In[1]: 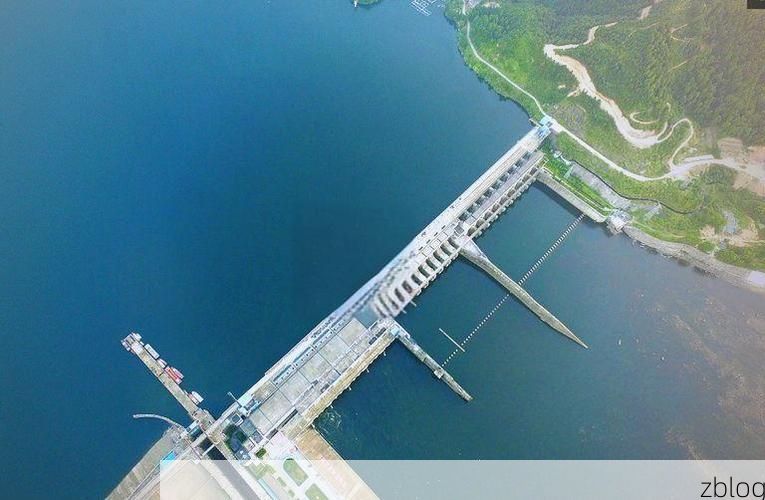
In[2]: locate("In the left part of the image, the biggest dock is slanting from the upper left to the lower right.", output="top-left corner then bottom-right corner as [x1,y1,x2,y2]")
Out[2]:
[125,338,217,431]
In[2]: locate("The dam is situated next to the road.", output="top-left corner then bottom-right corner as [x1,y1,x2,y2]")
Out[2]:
[130,125,551,500]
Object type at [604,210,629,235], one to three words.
building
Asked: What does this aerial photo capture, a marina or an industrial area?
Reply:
marina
